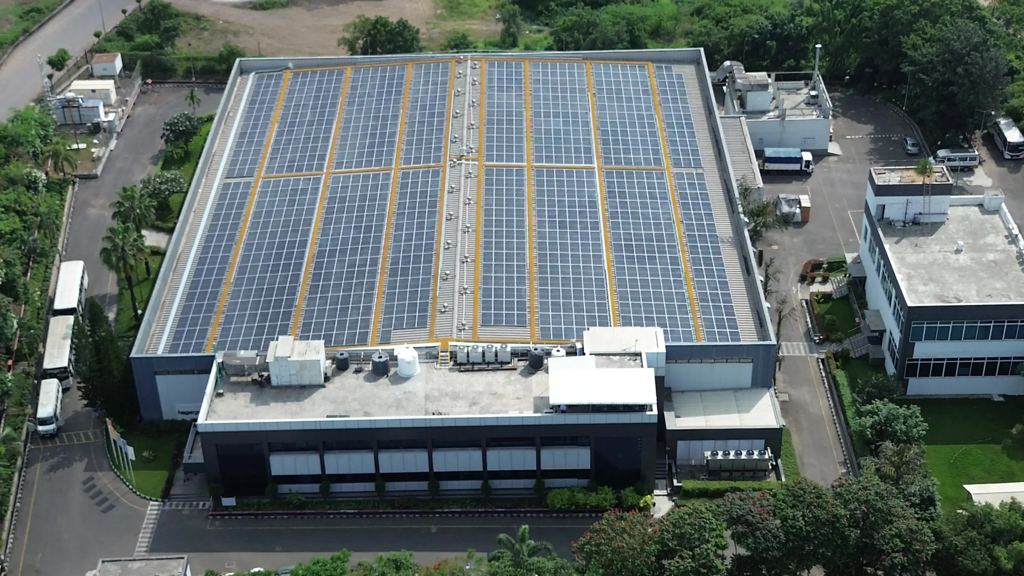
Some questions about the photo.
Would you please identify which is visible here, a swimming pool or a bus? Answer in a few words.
bus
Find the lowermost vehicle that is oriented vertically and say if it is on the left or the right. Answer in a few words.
left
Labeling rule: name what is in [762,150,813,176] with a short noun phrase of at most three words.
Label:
truck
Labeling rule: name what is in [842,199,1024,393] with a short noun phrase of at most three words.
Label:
building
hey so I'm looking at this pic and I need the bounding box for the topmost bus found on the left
[55,260,87,319]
